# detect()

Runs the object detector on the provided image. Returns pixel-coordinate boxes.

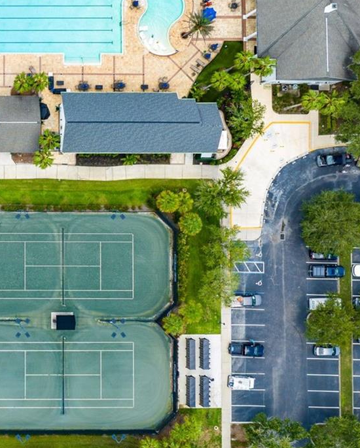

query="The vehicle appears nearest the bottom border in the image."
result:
[226,375,258,390]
